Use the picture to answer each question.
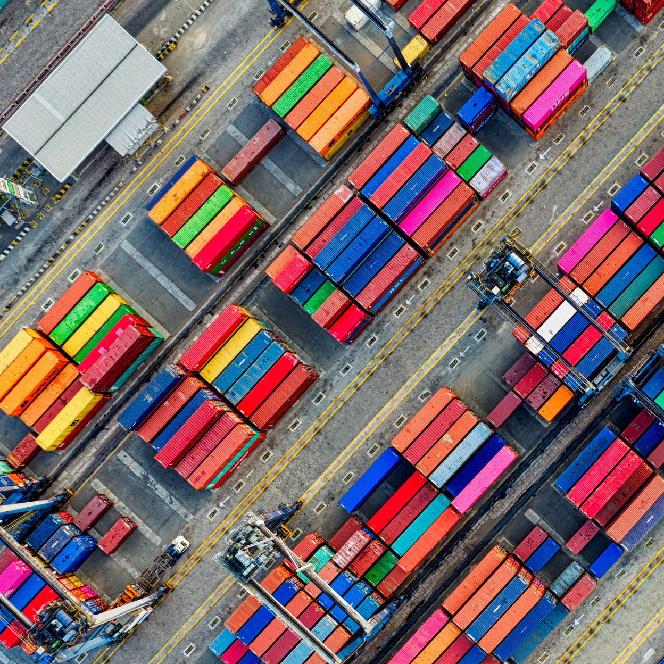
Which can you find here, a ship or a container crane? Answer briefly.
container crane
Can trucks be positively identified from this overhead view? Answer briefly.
Yes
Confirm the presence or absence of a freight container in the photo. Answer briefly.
Yes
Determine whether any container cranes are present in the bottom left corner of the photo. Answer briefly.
Yes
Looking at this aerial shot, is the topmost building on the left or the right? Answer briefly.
left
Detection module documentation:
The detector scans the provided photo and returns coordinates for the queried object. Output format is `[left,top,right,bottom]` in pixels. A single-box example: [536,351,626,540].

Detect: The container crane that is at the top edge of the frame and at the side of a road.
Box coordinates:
[262,0,429,129]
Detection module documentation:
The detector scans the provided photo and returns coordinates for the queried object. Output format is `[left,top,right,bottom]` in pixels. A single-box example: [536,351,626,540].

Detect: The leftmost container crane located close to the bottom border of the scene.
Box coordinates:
[0,477,183,664]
